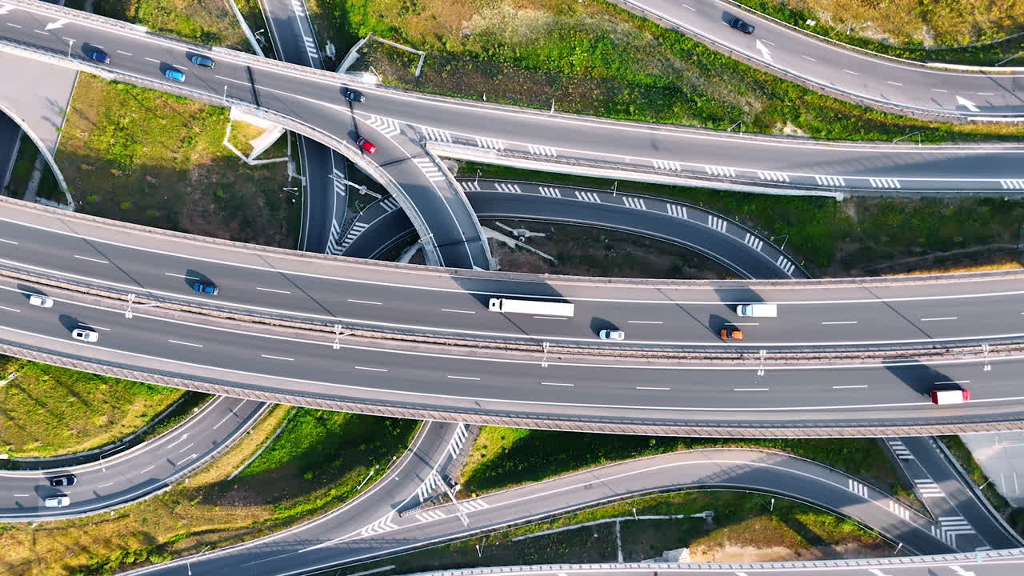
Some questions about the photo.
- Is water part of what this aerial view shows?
No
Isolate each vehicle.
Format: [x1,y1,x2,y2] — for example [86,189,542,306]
[345,90,365,102]
[488,298,575,317]
[720,328,743,340]
[926,390,971,406]
[736,304,781,317]
[46,496,69,507]
[72,328,98,342]
[52,475,75,486]
[89,50,110,64]
[29,295,53,308]
[600,329,624,340]
[357,138,376,154]
[730,18,754,35]
[193,282,218,294]
[165,69,184,82]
